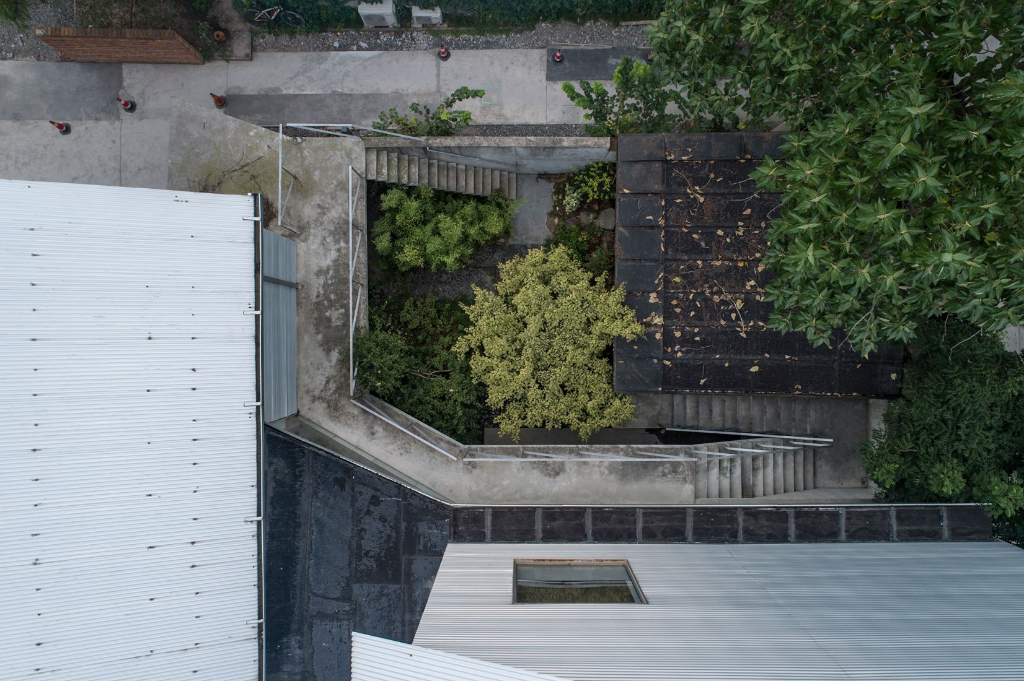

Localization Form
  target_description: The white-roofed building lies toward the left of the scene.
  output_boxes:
[0,180,299,681]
